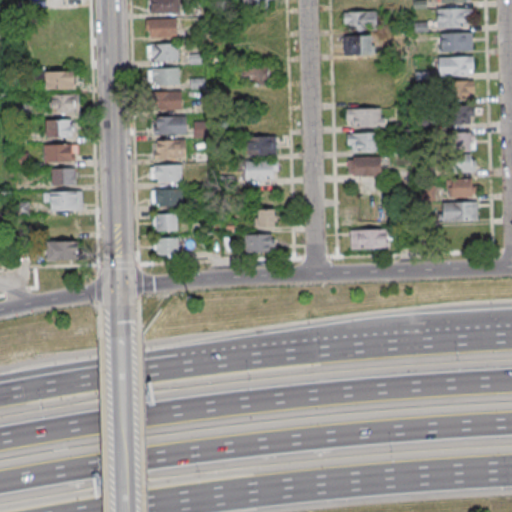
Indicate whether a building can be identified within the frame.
Yes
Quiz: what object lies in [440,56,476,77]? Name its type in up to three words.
house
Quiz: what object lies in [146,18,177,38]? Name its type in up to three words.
house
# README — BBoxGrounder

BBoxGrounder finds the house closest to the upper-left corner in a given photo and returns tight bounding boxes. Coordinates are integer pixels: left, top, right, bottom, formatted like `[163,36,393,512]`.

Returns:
[44,72,76,89]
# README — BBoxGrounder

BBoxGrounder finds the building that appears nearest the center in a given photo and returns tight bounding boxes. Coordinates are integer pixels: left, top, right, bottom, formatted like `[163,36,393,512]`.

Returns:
[245,235,275,253]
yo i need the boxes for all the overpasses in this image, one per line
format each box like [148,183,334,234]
[97,304,148,512]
